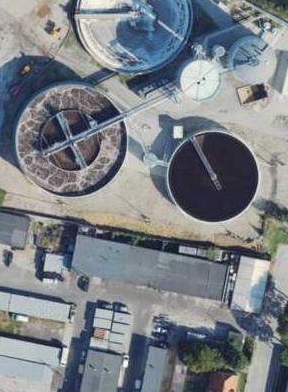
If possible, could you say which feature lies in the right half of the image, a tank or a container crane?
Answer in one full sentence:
It is a tank that can be seen in the right half of the image.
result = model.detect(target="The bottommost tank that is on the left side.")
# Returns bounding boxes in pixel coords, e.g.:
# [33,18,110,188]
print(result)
[16,83,181,196]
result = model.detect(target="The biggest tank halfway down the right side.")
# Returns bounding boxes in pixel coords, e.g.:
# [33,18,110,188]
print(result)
[167,130,260,223]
